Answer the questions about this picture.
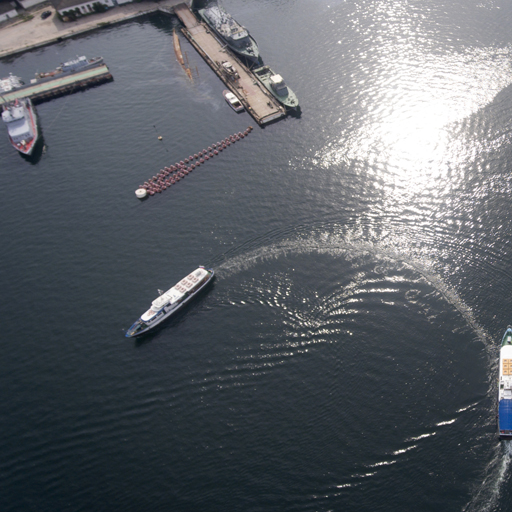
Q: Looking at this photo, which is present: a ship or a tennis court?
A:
ship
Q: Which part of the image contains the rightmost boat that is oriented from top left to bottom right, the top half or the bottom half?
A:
top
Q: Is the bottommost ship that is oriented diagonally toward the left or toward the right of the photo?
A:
left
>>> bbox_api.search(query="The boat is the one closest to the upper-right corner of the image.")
[253,68,297,108]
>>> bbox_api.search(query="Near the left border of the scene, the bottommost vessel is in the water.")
[1,95,37,155]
